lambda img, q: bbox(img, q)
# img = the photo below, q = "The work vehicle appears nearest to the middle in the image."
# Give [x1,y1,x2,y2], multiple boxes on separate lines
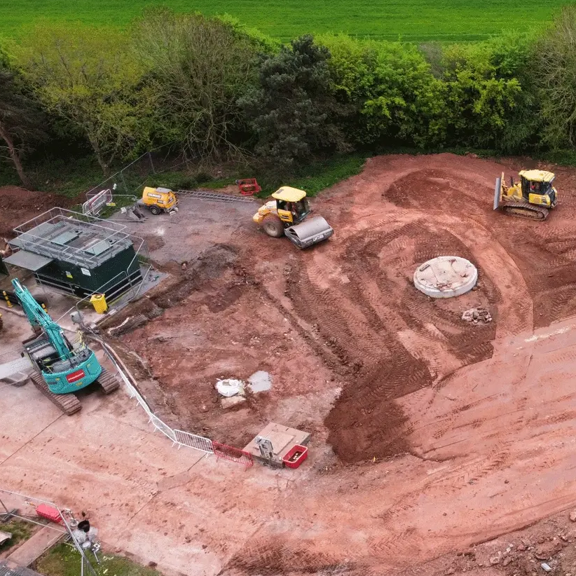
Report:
[252,191,339,258]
